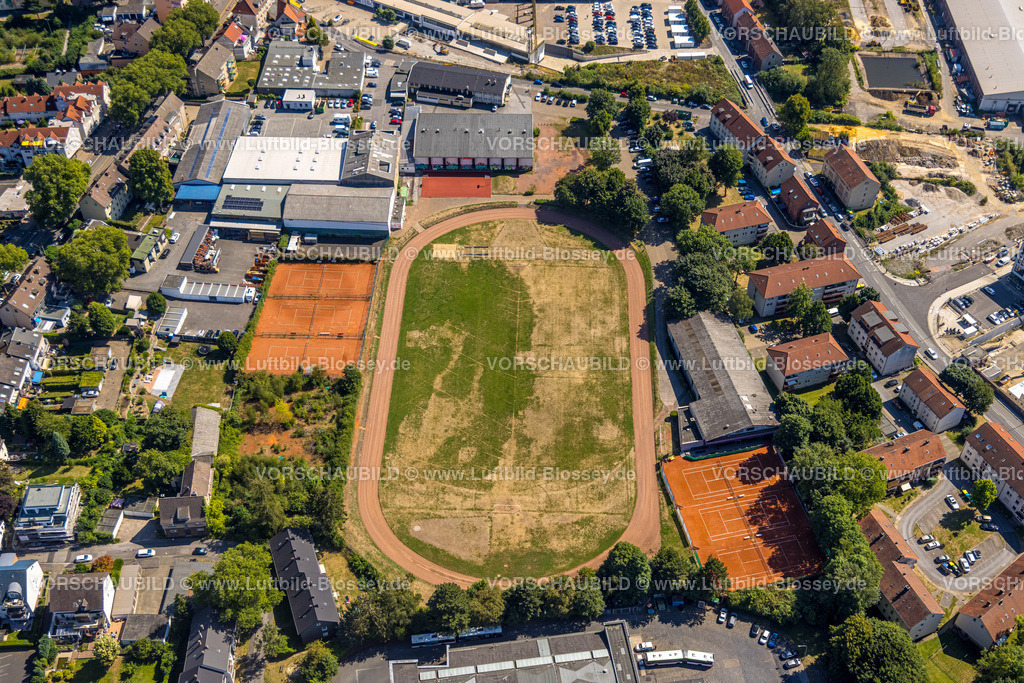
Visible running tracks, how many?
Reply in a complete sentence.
The photo contains exactly 1 running track.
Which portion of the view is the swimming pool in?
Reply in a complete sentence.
The swimming pool is in the left part of the image.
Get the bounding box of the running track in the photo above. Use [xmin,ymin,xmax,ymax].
[357,207,661,590]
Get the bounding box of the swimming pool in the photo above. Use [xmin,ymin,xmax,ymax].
[147,367,180,398]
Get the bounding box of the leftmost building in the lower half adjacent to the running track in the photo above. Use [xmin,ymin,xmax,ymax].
[270,529,339,644]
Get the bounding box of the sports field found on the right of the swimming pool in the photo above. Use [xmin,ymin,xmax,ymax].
[379,218,636,578]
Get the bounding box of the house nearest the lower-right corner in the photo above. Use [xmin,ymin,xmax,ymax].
[952,577,1024,652]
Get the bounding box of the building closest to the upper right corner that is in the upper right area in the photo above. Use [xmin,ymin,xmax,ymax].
[935,0,1024,114]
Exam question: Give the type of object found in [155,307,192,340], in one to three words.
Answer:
building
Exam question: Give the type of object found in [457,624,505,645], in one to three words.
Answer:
bus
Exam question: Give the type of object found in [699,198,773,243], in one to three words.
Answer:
house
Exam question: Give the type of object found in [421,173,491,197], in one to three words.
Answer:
sports court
